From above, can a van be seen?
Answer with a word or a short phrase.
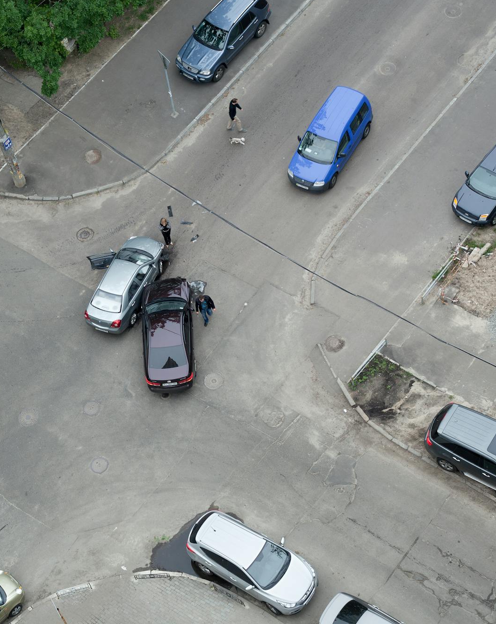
Yes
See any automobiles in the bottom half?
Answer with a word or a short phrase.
Yes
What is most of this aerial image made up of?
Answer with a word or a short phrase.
paved ground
